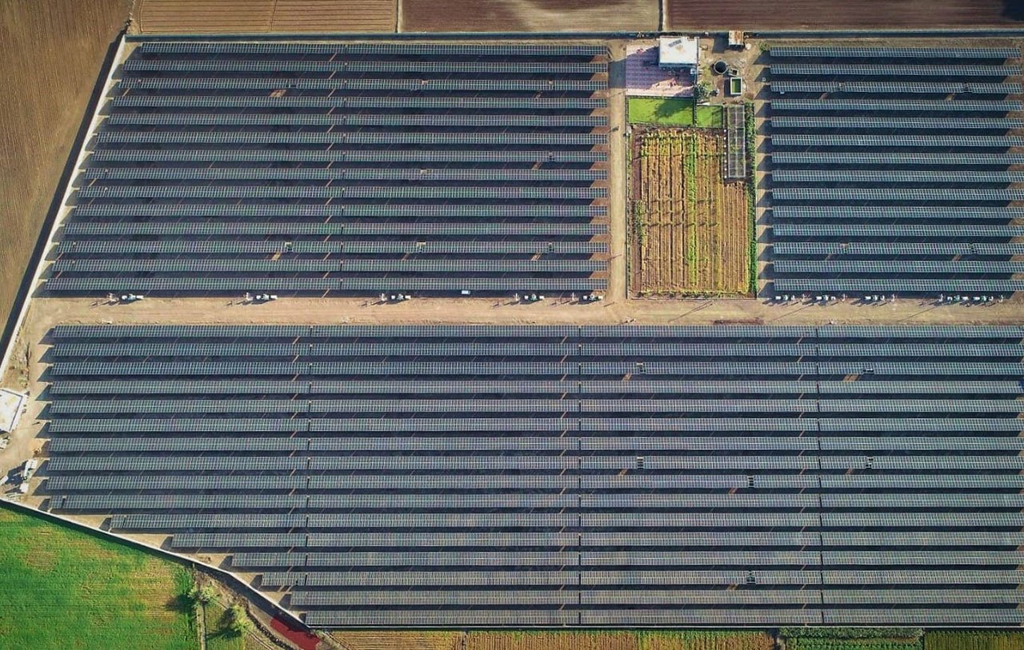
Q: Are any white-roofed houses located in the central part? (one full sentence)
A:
No, the scene shows no white-roofed house in the central part.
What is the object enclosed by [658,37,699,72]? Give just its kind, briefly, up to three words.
house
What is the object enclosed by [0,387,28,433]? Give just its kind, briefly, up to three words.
building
